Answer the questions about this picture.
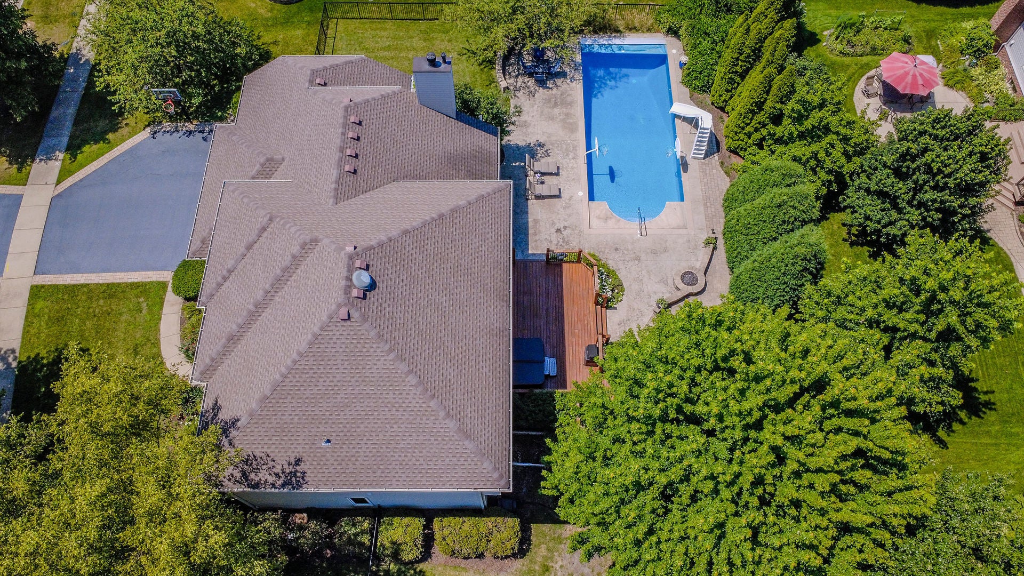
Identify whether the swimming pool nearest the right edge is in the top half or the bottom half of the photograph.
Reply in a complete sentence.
It is in the top half that the swimming pool nearest the right edge appears.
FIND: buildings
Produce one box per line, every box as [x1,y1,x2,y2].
[969,0,1024,103]
[185,49,514,507]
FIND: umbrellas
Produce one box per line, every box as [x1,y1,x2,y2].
[883,52,939,100]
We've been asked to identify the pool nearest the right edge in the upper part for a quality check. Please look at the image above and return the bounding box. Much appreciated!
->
[581,43,683,221]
